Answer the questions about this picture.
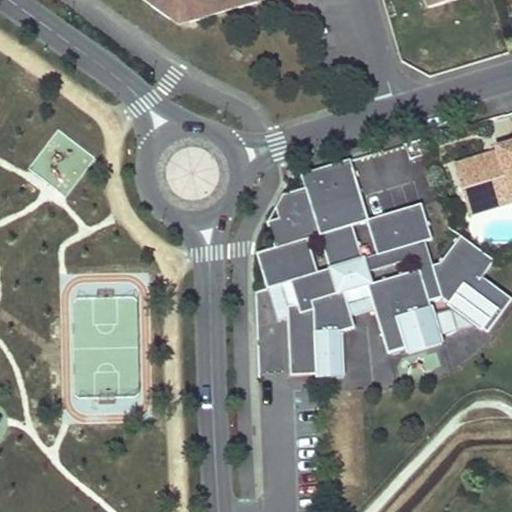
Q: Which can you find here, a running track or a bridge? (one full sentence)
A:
The one in the frame is a running track.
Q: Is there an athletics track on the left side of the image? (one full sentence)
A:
Yes, looking on the left side of the image, one can make out an athletics track.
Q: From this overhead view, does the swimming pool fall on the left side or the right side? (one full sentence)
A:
The swimming pool appears in the right half of the scene.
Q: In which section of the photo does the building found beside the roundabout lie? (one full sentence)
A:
The building found beside the roundabout is located in the right region of the scene.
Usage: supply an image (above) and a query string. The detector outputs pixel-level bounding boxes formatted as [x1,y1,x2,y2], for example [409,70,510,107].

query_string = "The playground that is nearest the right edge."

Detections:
[397,353,441,383]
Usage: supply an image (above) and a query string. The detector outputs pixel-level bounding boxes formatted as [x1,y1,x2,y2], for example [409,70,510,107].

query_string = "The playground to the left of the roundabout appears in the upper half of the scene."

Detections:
[28,129,96,198]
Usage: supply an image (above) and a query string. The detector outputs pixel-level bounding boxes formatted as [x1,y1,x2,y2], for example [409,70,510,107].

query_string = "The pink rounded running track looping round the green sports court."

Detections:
[60,273,152,424]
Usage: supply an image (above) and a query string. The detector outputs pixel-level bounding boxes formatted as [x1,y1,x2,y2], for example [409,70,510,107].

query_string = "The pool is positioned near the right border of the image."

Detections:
[468,204,512,242]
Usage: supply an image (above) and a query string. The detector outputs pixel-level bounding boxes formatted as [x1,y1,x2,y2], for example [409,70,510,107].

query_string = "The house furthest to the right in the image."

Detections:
[454,142,512,214]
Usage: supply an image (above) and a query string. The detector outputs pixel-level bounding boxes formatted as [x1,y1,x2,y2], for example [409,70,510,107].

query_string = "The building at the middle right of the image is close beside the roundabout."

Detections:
[256,158,511,378]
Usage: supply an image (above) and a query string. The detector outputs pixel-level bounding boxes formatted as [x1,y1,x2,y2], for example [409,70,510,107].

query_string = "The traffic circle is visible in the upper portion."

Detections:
[136,110,256,244]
